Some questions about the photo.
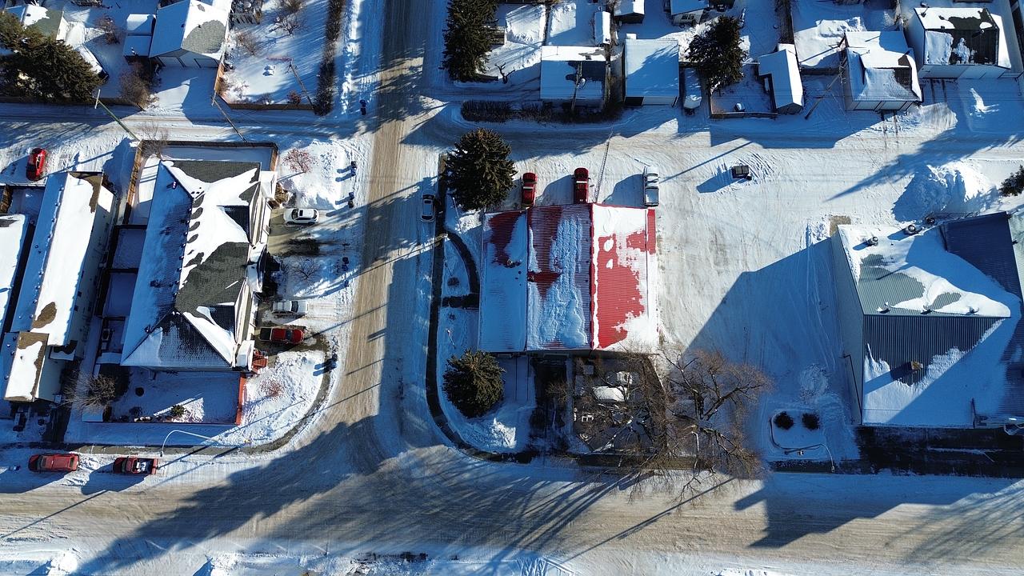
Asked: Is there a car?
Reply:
Yes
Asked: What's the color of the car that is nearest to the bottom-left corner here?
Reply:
red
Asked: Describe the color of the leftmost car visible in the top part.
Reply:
red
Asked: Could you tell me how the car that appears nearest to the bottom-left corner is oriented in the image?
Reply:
horizontally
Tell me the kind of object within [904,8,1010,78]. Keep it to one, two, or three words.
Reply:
building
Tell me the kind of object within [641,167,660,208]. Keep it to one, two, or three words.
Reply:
vehicle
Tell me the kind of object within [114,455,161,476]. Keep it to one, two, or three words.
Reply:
truck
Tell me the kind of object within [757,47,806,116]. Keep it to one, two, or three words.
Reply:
shed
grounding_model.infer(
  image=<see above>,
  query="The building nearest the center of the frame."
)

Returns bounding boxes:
[480,199,665,378]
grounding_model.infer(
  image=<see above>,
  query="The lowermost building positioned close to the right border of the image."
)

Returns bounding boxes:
[823,207,1024,430]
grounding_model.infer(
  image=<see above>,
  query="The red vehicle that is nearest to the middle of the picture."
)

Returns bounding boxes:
[520,171,538,208]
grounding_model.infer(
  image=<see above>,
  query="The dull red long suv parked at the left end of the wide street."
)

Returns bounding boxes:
[31,452,81,474]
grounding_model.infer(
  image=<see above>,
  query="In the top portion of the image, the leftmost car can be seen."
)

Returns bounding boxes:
[24,150,50,182]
